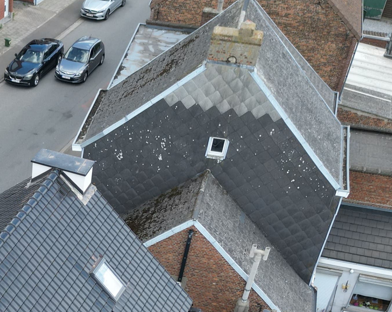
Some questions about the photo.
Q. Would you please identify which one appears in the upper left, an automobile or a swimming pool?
automobile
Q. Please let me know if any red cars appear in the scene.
No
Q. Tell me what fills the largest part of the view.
buildings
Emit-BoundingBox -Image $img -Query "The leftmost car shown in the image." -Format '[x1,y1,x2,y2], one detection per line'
[3,40,64,87]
